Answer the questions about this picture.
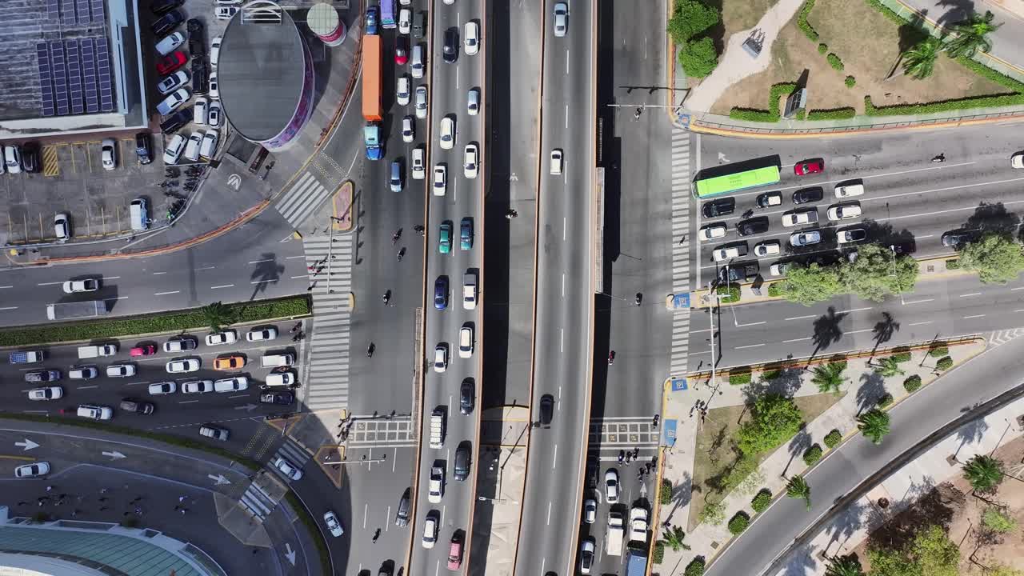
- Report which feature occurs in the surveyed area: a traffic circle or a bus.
bus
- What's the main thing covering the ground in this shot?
paved ground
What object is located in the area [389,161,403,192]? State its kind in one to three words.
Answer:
car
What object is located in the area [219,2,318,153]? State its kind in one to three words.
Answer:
building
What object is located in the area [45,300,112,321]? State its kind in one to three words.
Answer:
truck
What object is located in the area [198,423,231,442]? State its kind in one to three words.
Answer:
vehicle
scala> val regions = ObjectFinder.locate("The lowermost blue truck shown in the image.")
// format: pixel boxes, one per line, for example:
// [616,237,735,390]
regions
[625,547,646,576]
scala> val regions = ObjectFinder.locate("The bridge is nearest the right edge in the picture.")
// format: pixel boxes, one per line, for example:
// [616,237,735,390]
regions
[512,0,597,576]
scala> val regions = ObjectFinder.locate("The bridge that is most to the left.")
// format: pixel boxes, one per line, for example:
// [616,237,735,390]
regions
[406,0,485,576]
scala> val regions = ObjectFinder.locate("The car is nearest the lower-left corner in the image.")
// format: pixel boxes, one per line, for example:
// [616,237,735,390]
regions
[16,461,53,476]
